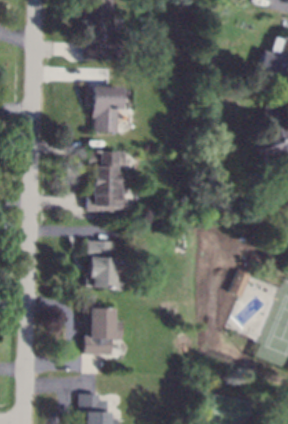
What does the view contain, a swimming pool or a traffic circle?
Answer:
swimming pool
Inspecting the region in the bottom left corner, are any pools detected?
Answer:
No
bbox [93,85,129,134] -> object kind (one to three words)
house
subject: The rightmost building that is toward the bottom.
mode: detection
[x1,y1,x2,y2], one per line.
[229,269,250,298]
